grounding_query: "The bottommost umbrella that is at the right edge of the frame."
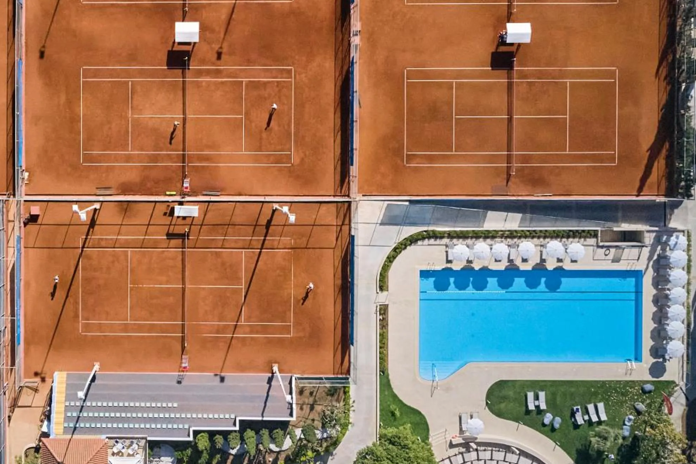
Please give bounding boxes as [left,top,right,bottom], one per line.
[660,342,683,359]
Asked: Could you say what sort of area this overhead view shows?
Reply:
sports ground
